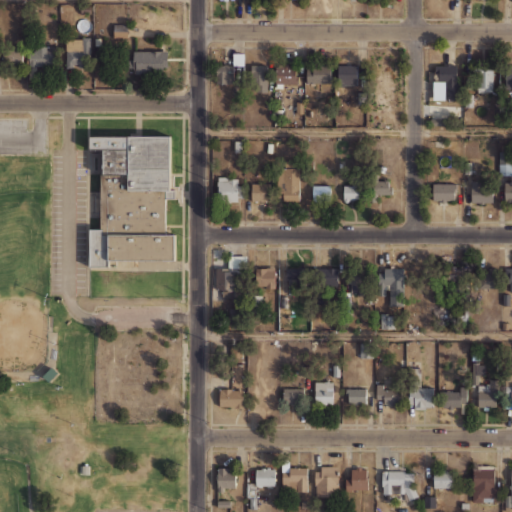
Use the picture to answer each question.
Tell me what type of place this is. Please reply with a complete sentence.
The picture captures a residential area.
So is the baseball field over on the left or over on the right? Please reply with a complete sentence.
The baseball field is on the left side of the image.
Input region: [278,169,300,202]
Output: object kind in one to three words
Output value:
house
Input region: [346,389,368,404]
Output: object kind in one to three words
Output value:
house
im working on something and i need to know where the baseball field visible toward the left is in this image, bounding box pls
[0,296,48,373]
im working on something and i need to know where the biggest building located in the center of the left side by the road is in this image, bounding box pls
[89,136,176,268]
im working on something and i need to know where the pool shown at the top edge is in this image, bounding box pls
[78,19,92,34]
